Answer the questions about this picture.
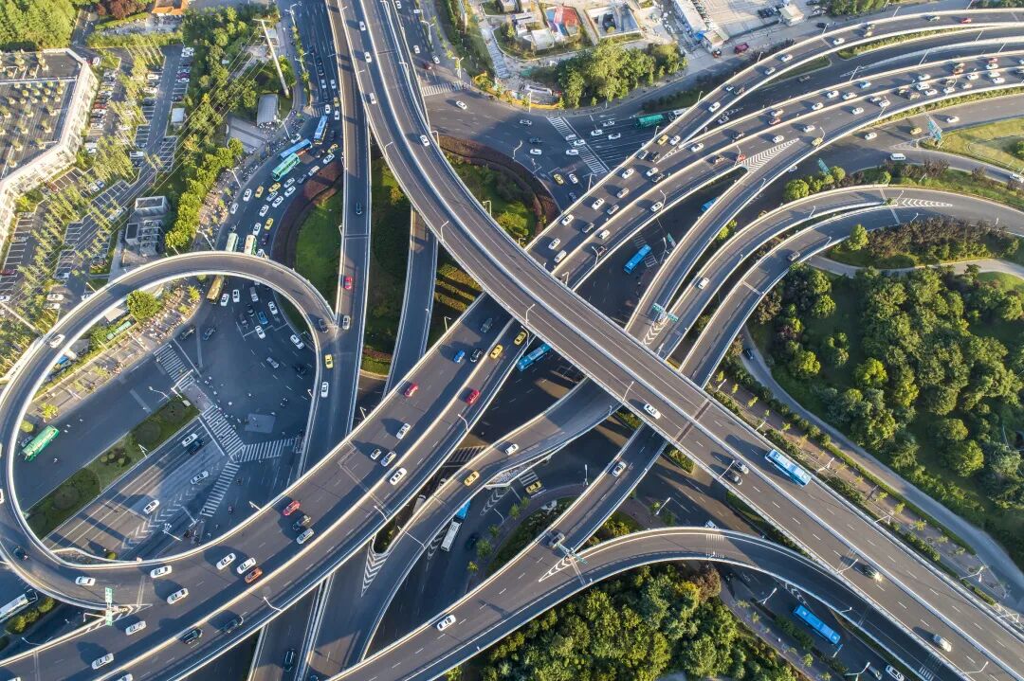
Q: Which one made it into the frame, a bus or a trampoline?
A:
bus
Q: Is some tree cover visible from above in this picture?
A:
Yes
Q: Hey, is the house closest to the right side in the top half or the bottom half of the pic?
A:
top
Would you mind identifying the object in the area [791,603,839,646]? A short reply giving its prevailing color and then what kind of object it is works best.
blue bus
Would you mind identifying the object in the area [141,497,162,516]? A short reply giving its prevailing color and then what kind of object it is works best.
white car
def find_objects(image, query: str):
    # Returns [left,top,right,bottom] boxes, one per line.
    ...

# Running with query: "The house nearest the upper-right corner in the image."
[776,4,803,31]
